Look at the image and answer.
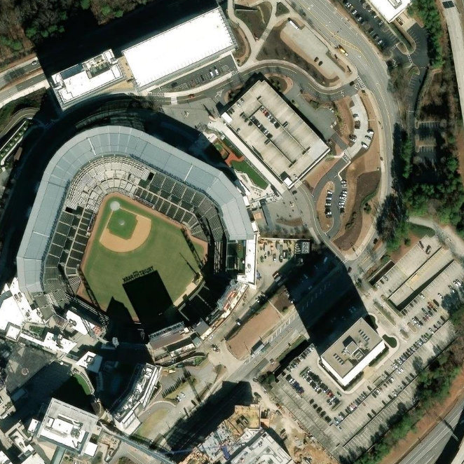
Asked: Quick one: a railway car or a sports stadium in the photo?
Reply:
sports stadium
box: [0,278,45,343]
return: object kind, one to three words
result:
building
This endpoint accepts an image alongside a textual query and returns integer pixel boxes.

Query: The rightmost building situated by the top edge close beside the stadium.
[124,8,239,96]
